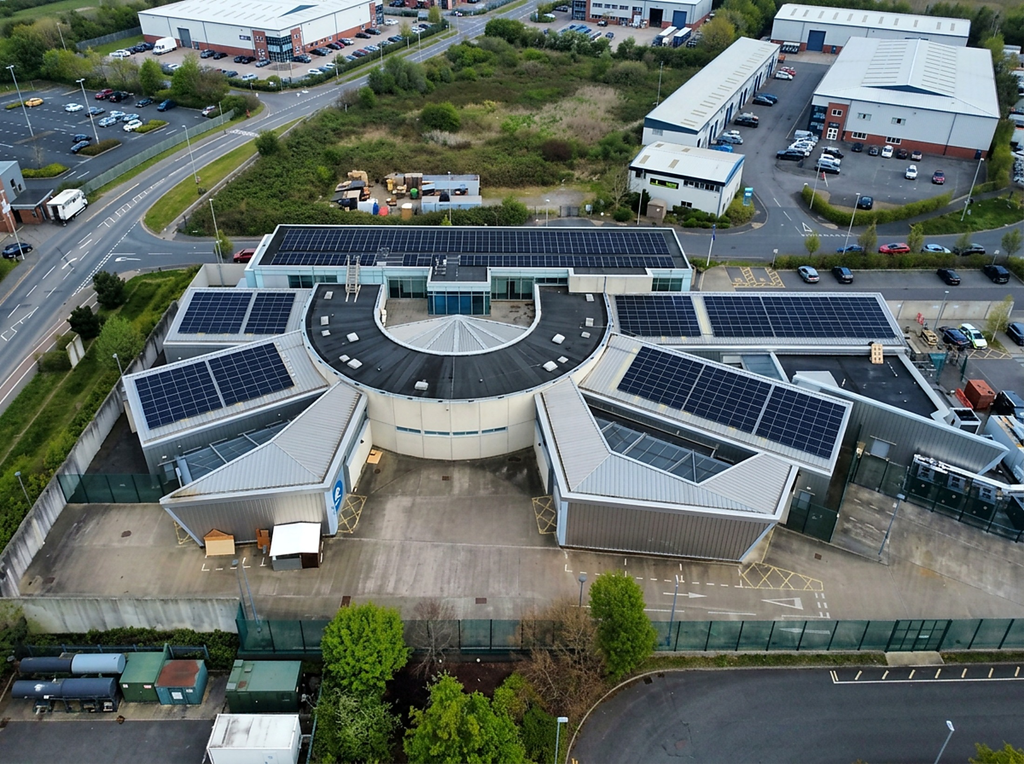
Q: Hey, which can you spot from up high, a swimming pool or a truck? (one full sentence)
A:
I can see a truck in this picture.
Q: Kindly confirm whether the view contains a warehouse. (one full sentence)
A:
Yes, you can see a warehouse in this photo.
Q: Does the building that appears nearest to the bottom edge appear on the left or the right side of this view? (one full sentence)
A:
You can find the building that appears nearest to the bottom edge on the left side of the picture.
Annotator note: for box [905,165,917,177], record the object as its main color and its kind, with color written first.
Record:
white vehicle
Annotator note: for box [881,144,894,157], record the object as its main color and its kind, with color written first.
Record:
white vehicle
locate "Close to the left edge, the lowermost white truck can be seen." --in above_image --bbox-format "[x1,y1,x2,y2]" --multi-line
[41,190,89,223]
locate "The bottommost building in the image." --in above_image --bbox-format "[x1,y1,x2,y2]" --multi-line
[208,714,307,764]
